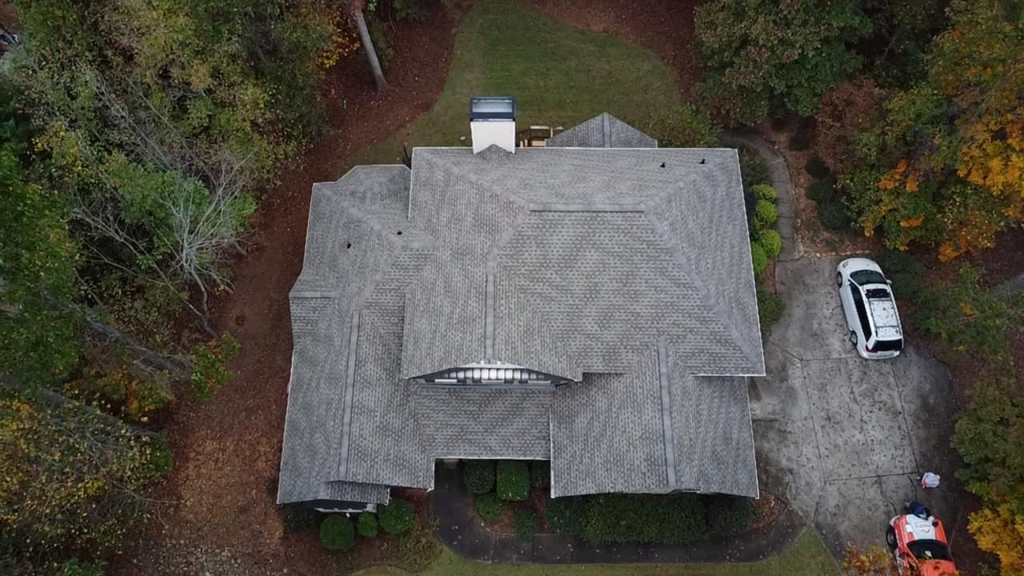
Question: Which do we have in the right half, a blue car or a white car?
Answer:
white car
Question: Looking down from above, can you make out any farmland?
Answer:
No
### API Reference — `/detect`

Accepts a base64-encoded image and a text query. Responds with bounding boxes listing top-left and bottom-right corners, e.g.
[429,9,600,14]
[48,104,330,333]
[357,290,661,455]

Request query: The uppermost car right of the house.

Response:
[838,257,905,358]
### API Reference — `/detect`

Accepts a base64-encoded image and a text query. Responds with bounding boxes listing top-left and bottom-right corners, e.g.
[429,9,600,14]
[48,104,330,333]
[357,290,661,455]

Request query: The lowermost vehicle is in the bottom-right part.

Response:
[885,510,960,576]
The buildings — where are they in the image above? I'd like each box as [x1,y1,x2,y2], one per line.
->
[279,94,764,513]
